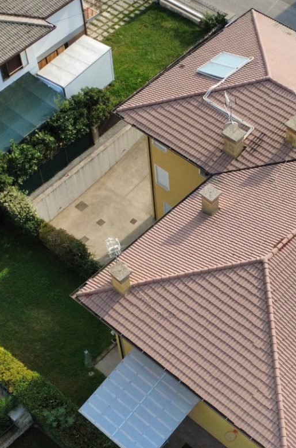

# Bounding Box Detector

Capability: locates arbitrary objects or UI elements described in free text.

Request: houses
[0,0,108,134]
[69,9,296,448]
